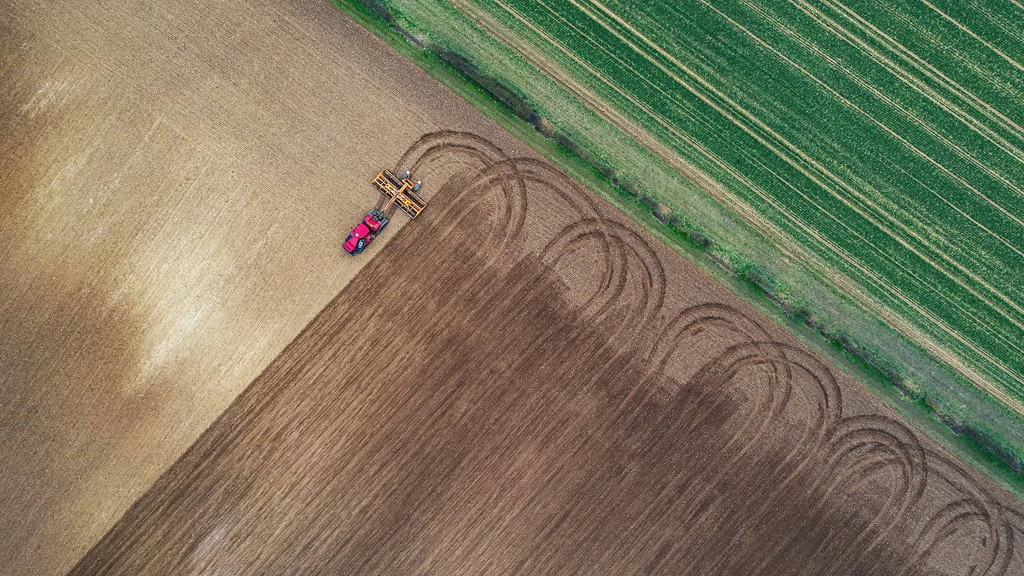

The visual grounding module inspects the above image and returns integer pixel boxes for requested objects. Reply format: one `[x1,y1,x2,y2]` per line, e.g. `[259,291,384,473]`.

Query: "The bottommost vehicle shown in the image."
[342,209,390,257]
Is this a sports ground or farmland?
farmland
